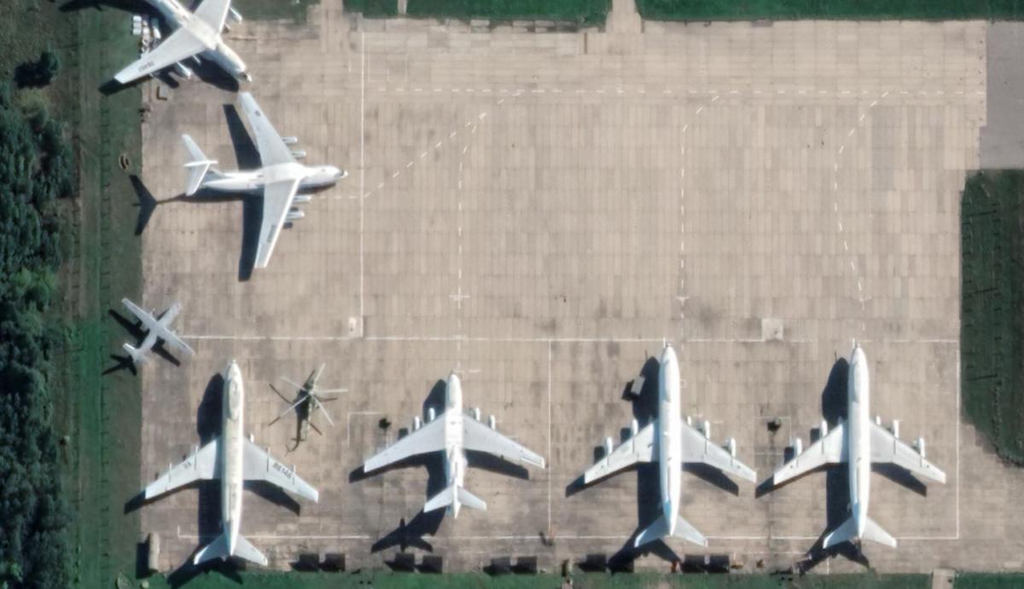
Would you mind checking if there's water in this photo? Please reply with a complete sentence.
No, water can't be seen anywhere here.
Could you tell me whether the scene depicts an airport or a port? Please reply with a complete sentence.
It's an airport.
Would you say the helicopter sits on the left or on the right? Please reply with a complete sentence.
It is on the left.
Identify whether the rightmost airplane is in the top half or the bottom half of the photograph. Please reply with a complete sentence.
It is in the bottom half that the rightmost airplane appears.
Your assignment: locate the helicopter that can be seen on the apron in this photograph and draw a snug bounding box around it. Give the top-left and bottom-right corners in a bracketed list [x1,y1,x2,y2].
[279,361,347,438]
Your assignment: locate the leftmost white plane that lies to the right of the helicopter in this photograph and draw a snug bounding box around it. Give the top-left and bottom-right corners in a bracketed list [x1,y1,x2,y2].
[368,369,544,517]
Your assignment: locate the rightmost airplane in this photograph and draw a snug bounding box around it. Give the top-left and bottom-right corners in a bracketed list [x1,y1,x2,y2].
[773,335,946,549]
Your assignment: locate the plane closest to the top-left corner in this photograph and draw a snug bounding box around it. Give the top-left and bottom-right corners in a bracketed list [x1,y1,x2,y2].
[115,0,250,82]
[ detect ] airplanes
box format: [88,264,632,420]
[773,335,946,549]
[123,297,197,366]
[180,90,347,266]
[145,359,318,565]
[368,369,544,517]
[115,0,250,82]
[585,334,757,548]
